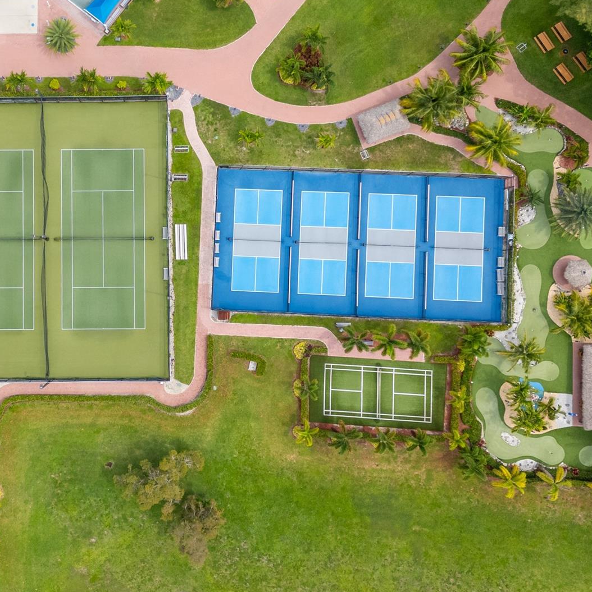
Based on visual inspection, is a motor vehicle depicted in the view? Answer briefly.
No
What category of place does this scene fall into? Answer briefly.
sports ground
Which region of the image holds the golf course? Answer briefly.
right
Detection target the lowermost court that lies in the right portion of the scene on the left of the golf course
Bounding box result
[324,364,434,423]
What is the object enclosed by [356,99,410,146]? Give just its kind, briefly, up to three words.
shed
